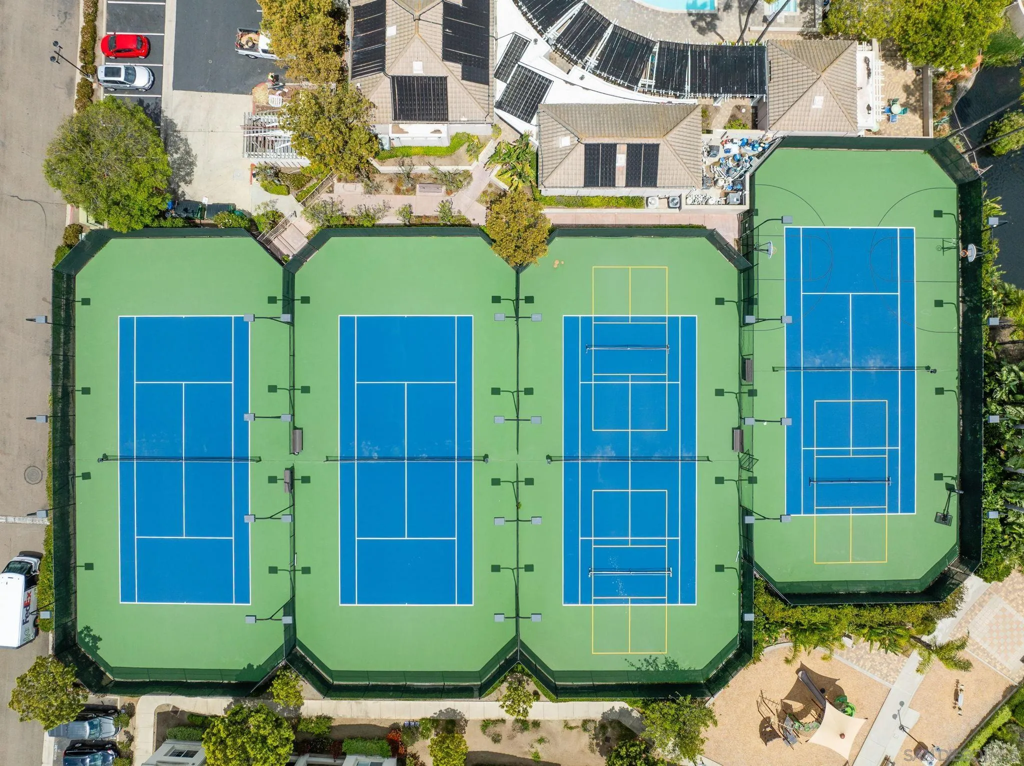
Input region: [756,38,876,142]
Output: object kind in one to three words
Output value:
building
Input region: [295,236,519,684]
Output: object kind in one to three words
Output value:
tennis court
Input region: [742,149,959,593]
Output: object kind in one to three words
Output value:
tennis court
